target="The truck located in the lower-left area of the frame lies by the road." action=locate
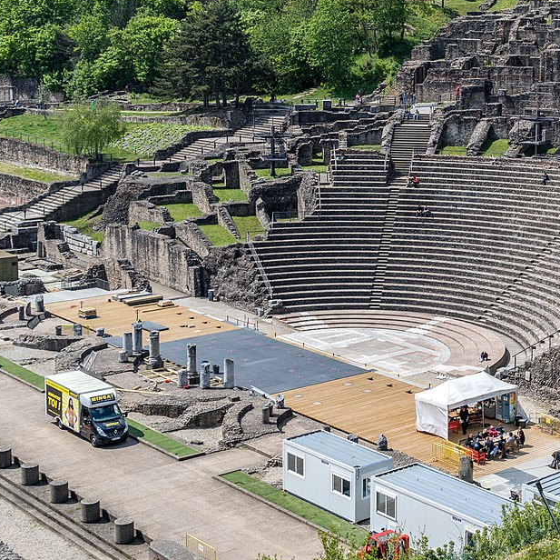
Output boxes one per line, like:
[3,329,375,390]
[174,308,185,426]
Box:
[43,370,133,452]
